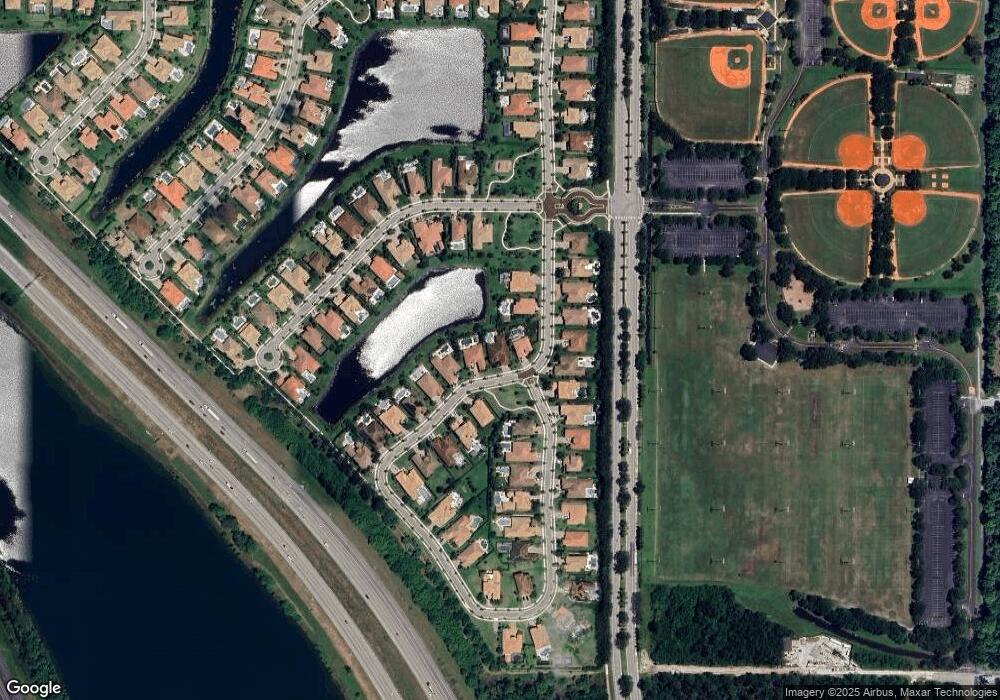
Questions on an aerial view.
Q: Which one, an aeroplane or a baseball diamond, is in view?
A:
baseball diamond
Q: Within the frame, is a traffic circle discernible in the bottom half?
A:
No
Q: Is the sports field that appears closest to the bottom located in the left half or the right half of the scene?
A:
right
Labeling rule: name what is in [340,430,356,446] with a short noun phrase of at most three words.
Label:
swimming pool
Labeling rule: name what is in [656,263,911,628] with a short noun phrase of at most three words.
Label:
sports field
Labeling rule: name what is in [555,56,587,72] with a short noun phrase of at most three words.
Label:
house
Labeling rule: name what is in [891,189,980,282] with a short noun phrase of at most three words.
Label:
baseball field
